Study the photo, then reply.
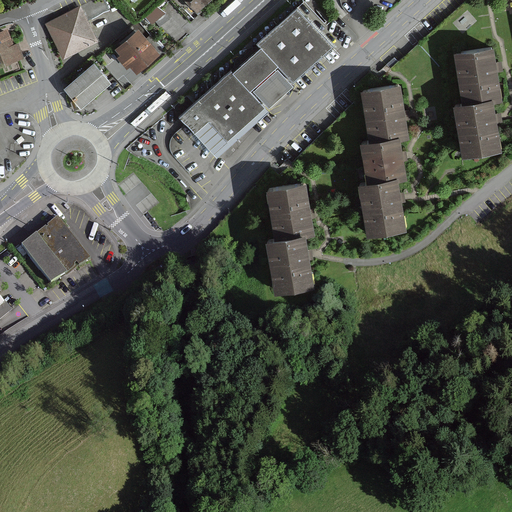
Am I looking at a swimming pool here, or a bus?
bus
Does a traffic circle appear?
Yes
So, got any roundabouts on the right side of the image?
No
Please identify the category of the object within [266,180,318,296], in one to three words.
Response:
building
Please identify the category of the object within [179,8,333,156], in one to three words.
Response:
building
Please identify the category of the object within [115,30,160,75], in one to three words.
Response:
house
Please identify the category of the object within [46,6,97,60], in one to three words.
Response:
house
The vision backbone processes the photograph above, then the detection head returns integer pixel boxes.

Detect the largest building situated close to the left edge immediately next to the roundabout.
[16,214,91,284]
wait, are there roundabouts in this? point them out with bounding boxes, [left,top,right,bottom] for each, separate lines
[36,121,112,196]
